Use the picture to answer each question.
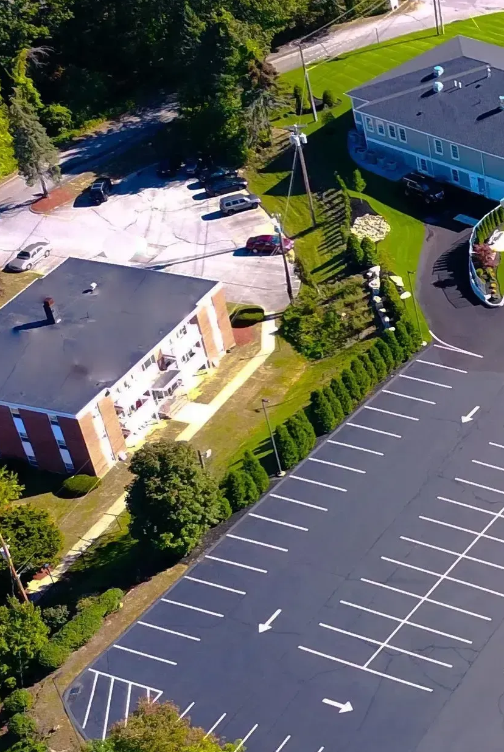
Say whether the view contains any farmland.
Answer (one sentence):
No, there is no farmland in the image.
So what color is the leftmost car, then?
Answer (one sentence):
From above, the leftmost car appears white.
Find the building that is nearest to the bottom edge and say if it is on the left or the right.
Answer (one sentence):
The building that is nearest to the bottom edge is on the left side of the image.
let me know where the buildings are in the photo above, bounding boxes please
[0,258,235,477]
[346,34,504,199]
